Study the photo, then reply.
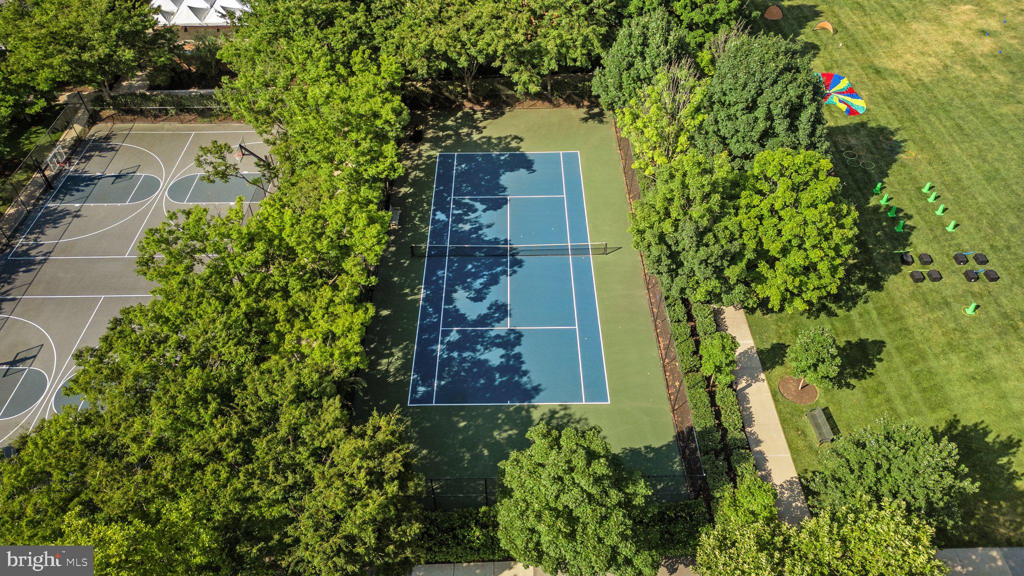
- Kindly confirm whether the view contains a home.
No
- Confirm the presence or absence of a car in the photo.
No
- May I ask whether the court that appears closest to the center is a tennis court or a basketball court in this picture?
tennis court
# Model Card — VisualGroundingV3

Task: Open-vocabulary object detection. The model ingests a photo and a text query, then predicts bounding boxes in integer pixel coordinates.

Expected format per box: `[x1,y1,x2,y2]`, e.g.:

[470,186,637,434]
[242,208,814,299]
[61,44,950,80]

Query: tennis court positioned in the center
[333,107,689,504]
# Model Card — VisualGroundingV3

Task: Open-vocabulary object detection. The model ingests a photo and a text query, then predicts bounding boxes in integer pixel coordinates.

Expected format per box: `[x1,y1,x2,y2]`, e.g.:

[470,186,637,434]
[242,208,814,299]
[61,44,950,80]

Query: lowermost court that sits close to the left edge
[0,275,226,529]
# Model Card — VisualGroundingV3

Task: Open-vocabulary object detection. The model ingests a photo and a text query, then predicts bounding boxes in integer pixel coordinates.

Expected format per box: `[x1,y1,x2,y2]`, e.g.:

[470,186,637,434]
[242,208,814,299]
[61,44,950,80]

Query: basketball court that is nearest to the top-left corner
[0,123,300,277]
